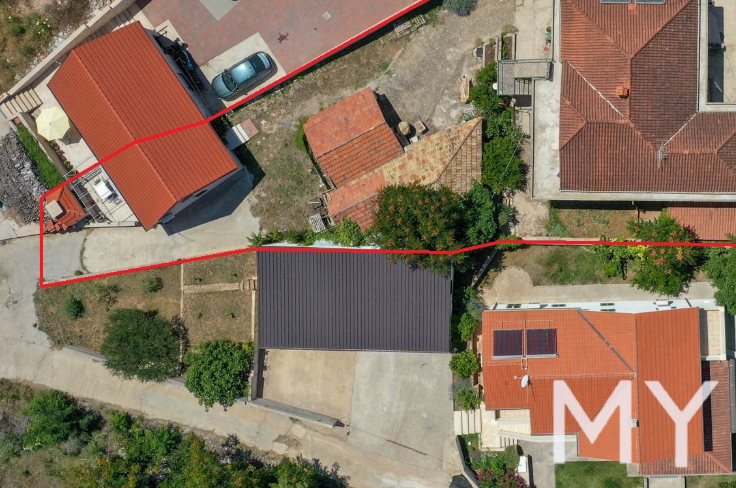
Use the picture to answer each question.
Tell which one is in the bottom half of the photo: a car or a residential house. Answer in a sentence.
What appears in the bottom half of the photo is a residential house.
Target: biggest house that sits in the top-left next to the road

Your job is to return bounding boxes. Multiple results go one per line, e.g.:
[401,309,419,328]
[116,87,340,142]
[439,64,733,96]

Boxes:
[47,21,245,232]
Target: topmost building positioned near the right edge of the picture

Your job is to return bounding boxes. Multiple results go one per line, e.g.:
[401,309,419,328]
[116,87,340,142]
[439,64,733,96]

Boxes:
[533,0,736,201]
